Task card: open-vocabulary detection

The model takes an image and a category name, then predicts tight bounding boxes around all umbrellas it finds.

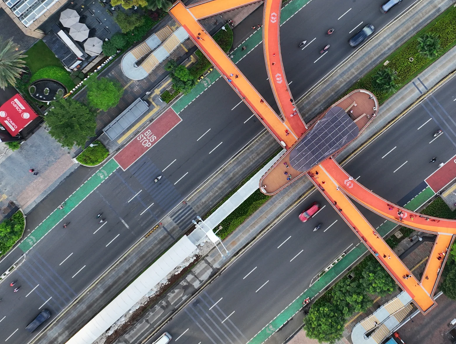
[85,38,101,56]
[60,9,80,27]
[70,23,89,42]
